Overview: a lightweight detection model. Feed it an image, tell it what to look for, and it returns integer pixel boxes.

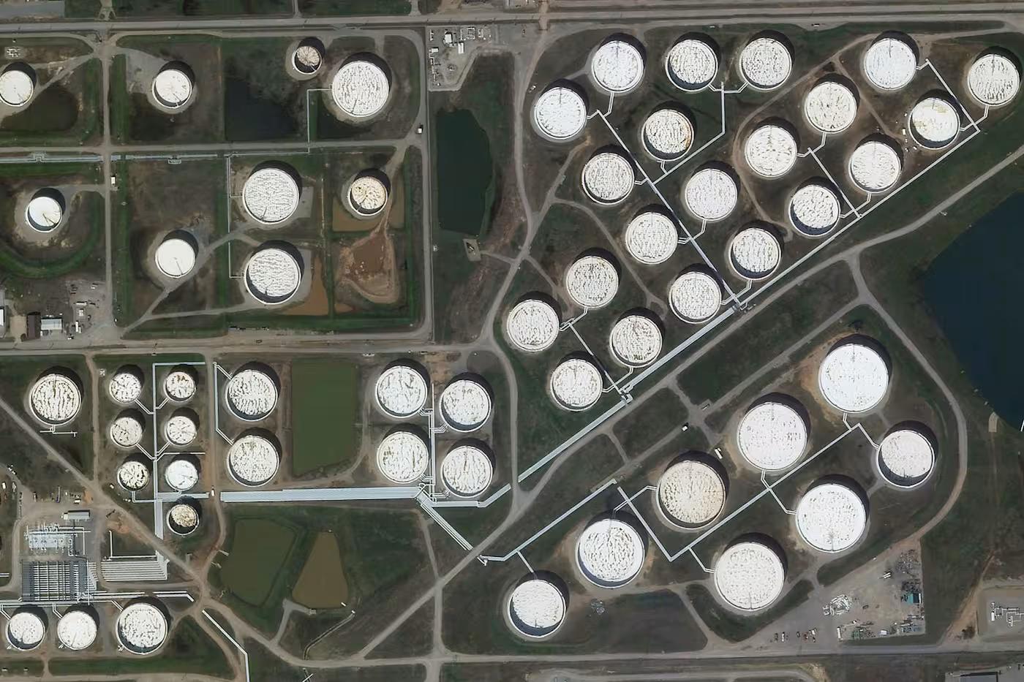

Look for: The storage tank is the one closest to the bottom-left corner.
[6,611,46,651]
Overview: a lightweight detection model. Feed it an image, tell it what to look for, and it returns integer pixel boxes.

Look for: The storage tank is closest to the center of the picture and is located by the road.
[507,298,559,352]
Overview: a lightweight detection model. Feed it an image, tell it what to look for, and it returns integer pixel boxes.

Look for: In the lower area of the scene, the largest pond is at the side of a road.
[292,359,358,473]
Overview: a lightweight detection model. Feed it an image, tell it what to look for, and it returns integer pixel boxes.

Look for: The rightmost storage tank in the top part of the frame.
[967,52,1020,107]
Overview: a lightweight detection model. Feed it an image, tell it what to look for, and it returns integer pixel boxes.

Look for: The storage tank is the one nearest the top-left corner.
[0,70,35,107]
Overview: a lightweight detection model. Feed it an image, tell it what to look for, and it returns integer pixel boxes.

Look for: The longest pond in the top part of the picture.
[437,110,491,235]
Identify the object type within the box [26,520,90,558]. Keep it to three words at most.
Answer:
building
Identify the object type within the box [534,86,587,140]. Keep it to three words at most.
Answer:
storage tank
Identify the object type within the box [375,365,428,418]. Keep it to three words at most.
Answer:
storage tank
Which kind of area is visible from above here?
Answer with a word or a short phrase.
industrial area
